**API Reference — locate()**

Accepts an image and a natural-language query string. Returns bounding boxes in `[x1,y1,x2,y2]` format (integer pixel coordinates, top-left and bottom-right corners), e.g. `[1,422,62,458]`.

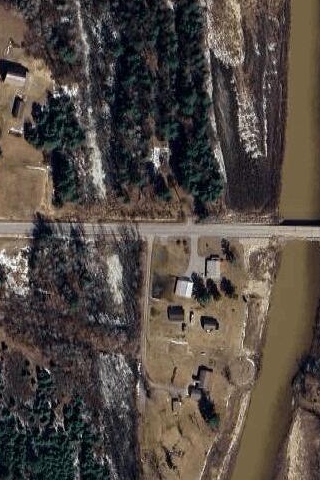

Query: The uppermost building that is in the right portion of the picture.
[206,260,225,277]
